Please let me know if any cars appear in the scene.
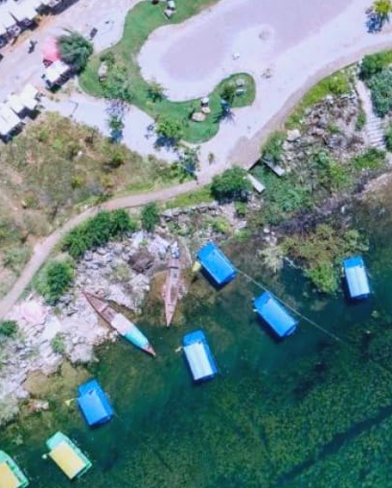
No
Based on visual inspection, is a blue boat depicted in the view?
Yes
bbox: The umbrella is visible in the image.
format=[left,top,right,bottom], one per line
[43,42,61,60]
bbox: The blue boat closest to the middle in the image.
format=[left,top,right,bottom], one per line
[195,242,236,285]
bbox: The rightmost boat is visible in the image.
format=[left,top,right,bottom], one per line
[344,257,369,300]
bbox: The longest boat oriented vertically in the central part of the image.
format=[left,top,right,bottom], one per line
[163,237,180,329]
